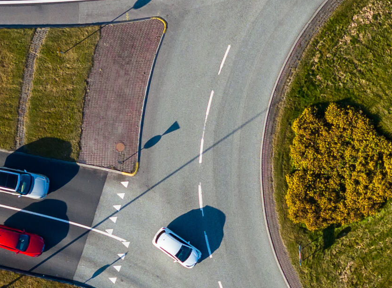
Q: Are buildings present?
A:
No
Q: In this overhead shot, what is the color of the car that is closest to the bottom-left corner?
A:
red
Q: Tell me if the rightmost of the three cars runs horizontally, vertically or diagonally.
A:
diagonally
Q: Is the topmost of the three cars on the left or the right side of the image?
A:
left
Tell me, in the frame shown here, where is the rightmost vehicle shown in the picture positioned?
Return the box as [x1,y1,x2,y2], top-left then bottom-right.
[152,227,202,268]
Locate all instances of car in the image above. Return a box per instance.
[0,167,50,199]
[0,225,46,256]
[152,227,202,268]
